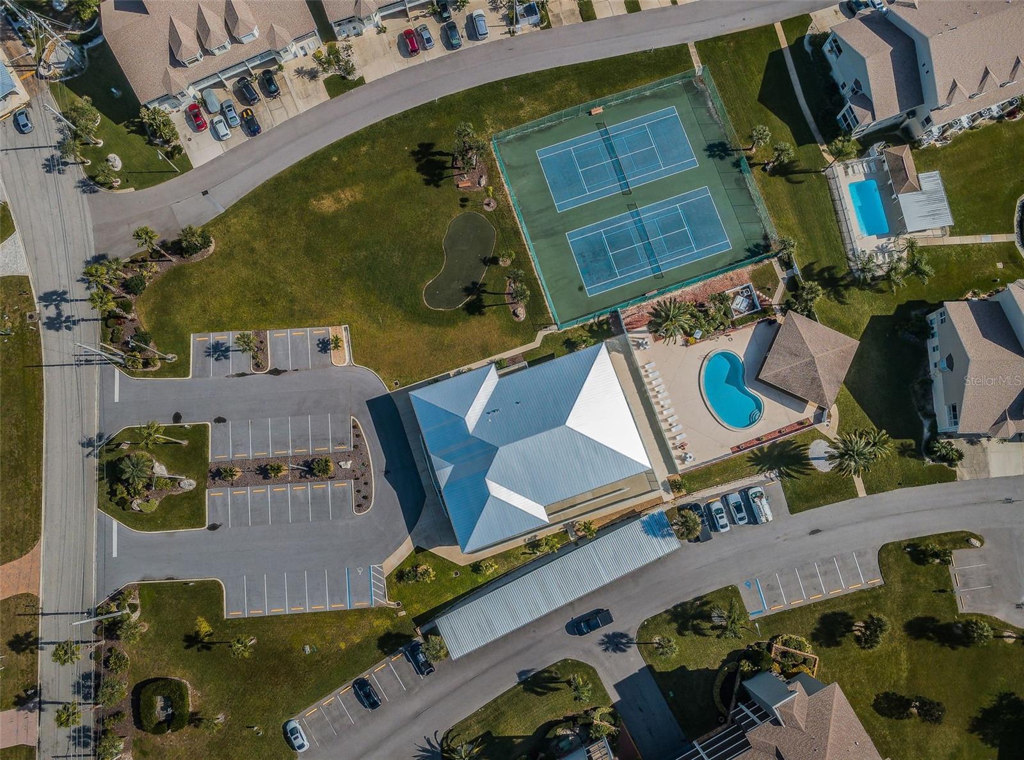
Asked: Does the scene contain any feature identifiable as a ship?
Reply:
No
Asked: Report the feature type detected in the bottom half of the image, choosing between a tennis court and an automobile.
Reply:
automobile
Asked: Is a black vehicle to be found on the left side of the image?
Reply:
Yes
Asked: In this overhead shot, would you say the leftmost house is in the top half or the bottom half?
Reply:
top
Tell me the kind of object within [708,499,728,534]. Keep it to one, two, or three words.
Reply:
car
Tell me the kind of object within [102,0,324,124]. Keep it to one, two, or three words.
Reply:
house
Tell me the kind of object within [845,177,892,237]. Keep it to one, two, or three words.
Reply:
swimming pool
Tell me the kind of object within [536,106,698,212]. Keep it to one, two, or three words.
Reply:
tennis court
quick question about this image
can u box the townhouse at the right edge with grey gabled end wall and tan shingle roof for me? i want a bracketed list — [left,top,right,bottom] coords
[923,283,1024,445]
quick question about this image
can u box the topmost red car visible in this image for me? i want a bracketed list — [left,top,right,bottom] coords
[403,29,419,56]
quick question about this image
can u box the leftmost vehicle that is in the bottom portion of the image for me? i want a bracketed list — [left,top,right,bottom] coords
[285,718,309,755]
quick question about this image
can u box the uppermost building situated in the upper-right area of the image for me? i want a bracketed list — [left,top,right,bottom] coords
[812,0,1024,147]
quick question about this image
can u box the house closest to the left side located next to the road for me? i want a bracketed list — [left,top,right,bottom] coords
[0,64,28,114]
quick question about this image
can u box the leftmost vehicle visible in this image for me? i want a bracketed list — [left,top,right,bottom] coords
[16,107,34,135]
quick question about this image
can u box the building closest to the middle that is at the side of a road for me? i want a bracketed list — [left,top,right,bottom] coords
[409,342,653,556]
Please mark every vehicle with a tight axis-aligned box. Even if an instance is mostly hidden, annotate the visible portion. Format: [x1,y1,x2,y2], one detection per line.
[261,69,279,97]
[213,115,231,142]
[417,24,433,50]
[242,110,260,138]
[748,484,772,524]
[285,718,309,755]
[727,492,746,526]
[692,501,715,540]
[355,676,380,712]
[473,10,488,40]
[708,499,728,534]
[223,100,240,127]
[239,78,257,106]
[406,639,433,681]
[445,22,461,50]
[841,0,869,15]
[568,610,614,635]
[189,108,206,131]
[436,0,451,22]
[403,29,419,56]
[16,107,34,135]
[868,0,884,17]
